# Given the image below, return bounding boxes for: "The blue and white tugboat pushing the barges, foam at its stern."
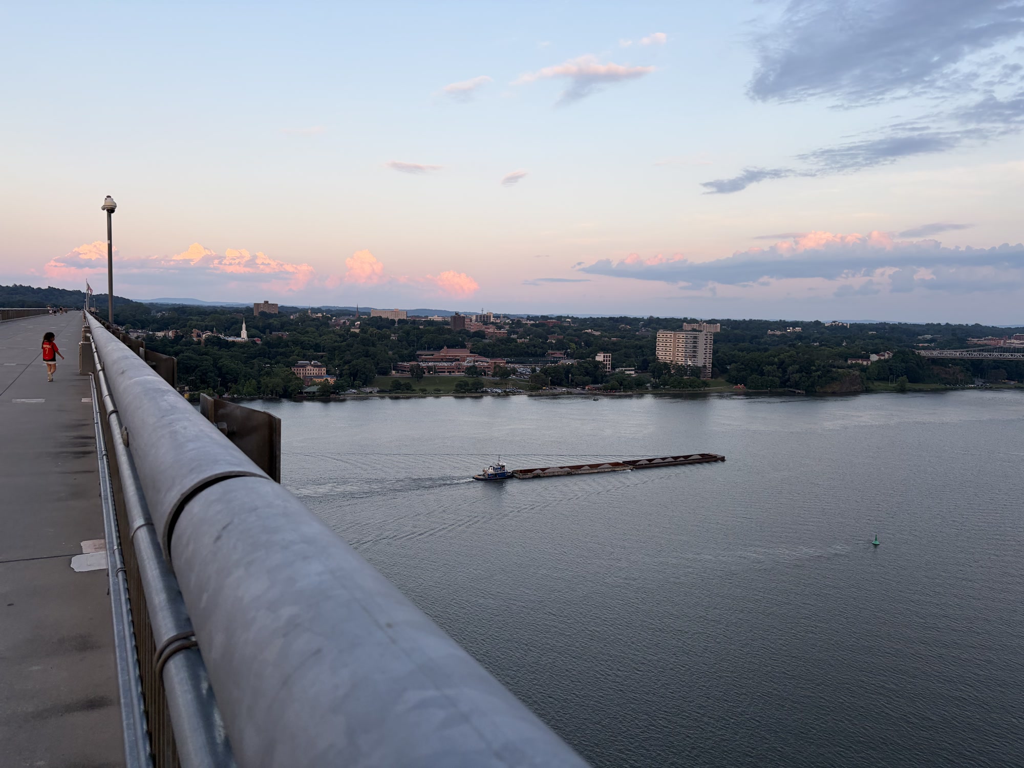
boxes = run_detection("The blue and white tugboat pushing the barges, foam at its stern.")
[470,449,511,480]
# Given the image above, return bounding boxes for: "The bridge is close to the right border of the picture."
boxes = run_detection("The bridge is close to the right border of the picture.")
[912,341,1024,379]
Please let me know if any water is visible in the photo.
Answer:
Yes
